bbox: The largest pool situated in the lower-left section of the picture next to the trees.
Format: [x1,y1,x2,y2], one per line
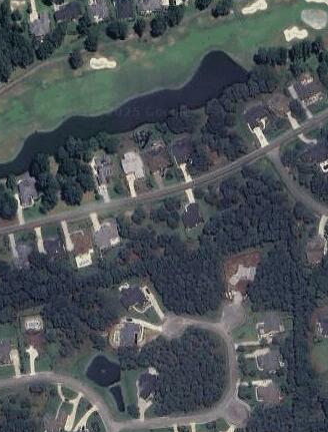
[24,318,41,330]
